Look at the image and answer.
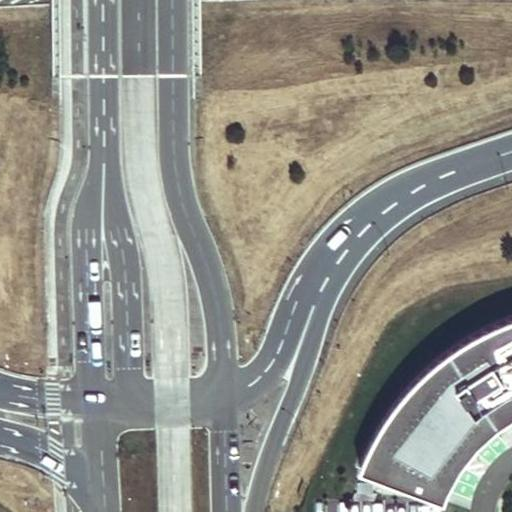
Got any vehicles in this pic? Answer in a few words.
Yes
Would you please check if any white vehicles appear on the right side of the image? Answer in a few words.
Yes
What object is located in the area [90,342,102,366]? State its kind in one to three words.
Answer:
vehicle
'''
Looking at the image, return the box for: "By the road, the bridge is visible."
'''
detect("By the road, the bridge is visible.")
[52,0,204,78]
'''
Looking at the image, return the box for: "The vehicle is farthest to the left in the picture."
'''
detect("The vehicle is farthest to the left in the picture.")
[40,458,66,477]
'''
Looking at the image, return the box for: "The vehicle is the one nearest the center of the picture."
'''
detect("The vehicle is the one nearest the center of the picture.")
[326,226,352,253]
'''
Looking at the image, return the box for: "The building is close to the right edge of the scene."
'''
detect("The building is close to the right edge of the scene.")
[358,320,512,512]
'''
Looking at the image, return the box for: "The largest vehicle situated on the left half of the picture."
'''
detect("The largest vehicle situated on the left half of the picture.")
[87,300,102,336]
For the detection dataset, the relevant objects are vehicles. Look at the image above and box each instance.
[130,333,141,358]
[40,458,66,477]
[362,504,372,512]
[228,438,240,462]
[350,505,360,512]
[90,342,102,366]
[229,474,240,498]
[87,300,102,336]
[338,503,348,512]
[88,260,99,282]
[314,504,325,512]
[76,332,88,353]
[326,226,352,253]
[374,504,384,512]
[84,392,106,404]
